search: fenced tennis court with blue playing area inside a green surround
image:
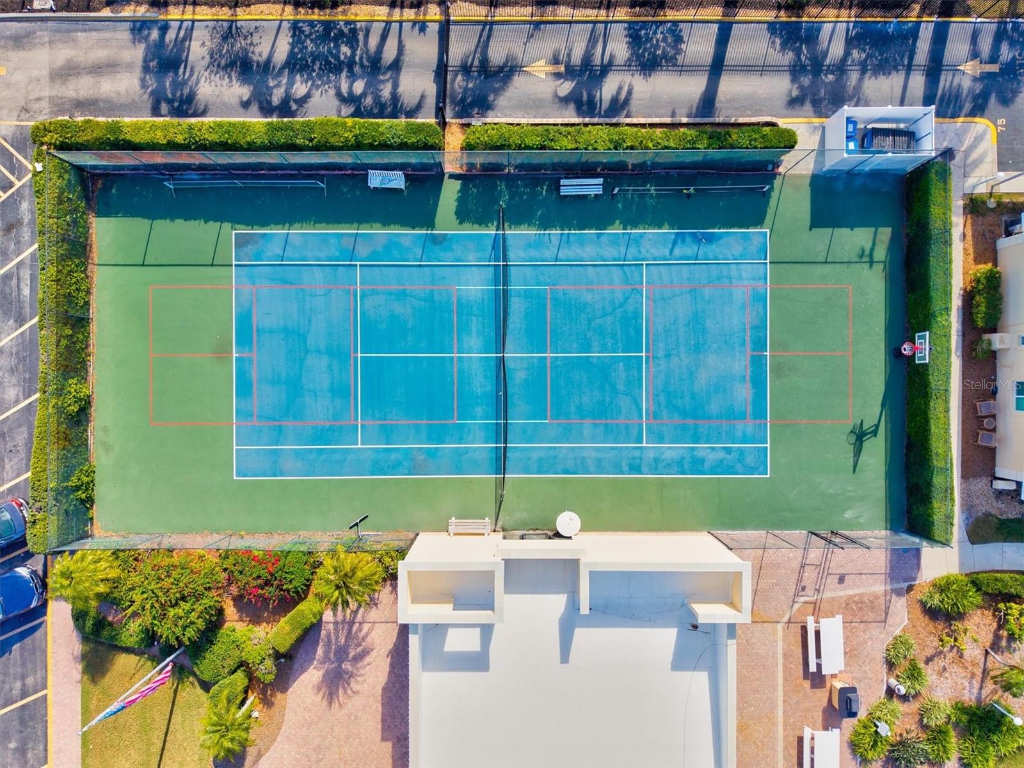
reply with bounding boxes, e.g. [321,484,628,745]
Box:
[95,173,906,531]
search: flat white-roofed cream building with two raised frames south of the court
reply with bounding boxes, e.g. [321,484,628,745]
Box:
[398,533,751,768]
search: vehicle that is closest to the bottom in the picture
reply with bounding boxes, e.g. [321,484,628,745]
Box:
[0,568,52,626]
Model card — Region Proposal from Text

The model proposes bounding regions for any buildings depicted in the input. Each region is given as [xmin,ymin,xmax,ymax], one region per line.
[983,234,1024,478]
[398,533,751,768]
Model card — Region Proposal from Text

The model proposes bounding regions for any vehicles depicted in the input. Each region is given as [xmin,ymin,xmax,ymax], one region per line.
[0,568,52,626]
[0,500,33,550]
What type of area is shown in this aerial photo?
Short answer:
sports ground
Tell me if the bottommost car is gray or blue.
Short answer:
blue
